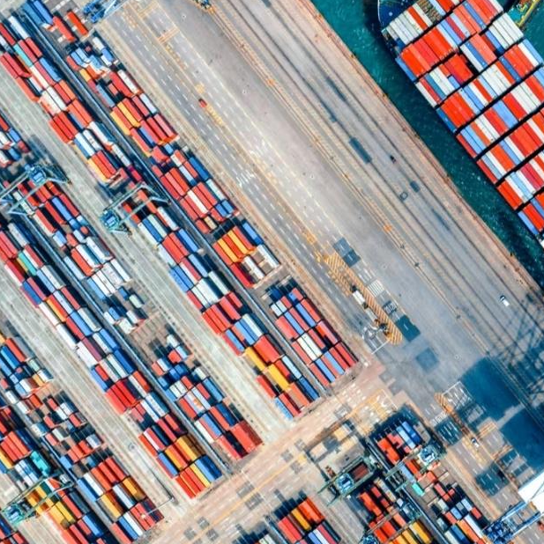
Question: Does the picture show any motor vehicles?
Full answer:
Yes, a motor vehicle appears in the view.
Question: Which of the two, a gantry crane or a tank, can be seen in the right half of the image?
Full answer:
You can see a gantry crane in the right half of the image.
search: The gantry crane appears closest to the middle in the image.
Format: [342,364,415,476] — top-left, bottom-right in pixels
[90,182,177,244]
